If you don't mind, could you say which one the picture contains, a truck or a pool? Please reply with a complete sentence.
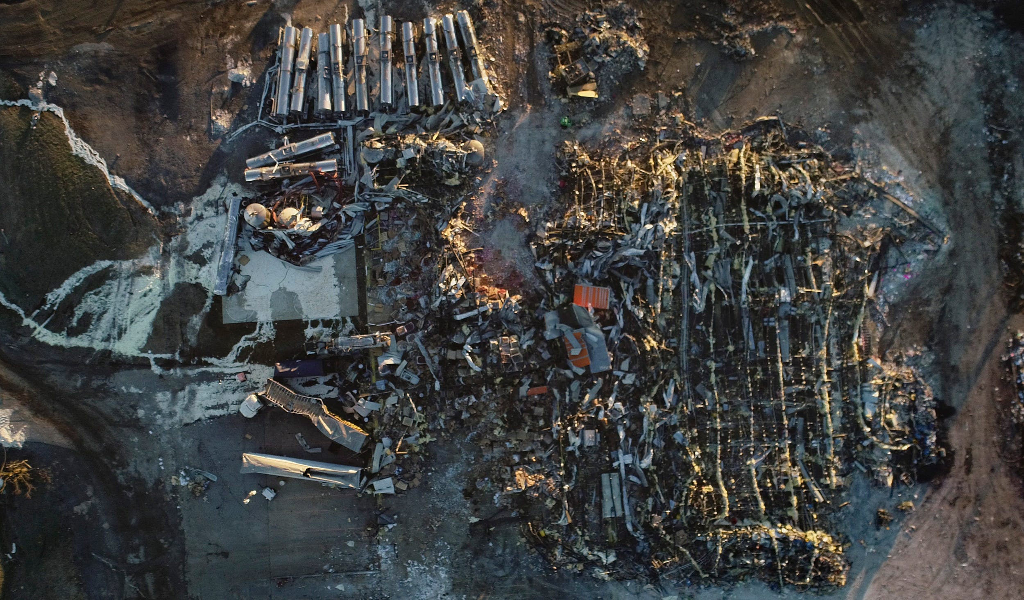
It is a truck that can be seen here.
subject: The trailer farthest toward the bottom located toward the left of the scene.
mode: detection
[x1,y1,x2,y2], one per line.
[242,448,366,489]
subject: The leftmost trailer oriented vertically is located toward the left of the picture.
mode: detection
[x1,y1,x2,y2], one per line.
[213,197,244,296]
